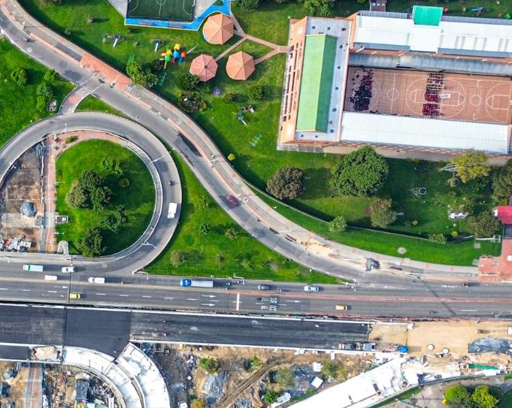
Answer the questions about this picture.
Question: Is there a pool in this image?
No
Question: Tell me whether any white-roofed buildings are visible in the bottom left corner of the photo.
No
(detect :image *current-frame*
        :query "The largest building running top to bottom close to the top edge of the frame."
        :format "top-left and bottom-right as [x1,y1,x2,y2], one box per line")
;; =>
[281,16,352,147]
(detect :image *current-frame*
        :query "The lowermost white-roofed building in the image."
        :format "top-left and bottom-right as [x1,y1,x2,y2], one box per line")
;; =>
[330,111,512,162]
